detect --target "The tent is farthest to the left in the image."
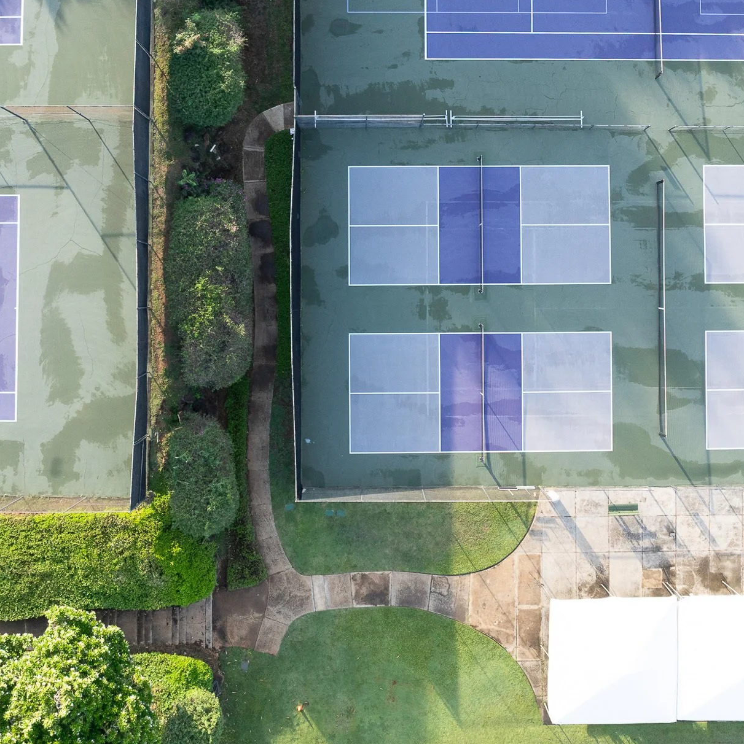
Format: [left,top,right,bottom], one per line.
[540,583,676,725]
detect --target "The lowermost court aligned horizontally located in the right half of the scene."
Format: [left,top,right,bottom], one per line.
[348,332,613,455]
